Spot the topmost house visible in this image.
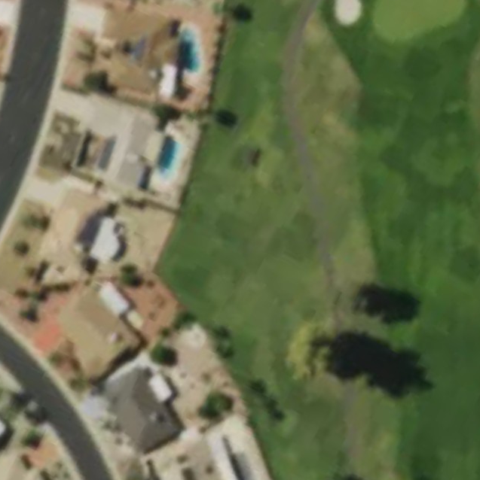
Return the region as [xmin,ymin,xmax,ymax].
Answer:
[99,5,180,98]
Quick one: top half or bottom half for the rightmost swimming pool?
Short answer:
top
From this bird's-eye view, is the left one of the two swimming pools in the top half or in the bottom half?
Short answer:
top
